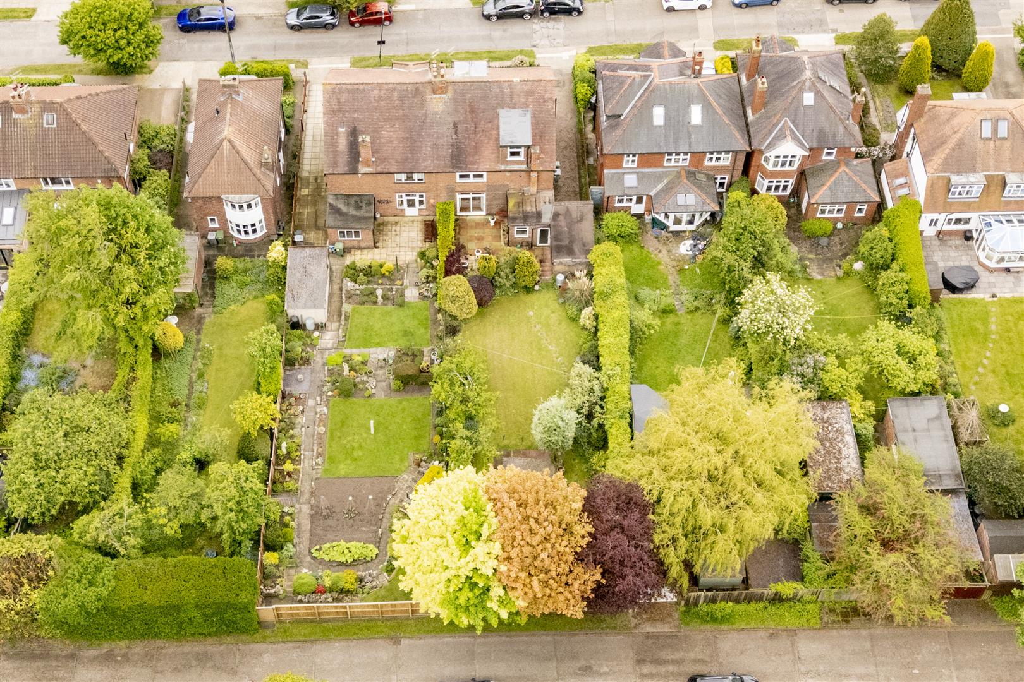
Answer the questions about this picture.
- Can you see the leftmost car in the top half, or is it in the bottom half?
top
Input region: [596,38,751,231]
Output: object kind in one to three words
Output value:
house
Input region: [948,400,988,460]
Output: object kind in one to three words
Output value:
gazebo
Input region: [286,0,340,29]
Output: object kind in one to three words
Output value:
car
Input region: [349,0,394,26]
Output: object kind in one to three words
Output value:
car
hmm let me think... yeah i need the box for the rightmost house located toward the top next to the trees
[880,84,1024,268]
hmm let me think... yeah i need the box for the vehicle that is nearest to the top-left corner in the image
[177,2,237,31]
